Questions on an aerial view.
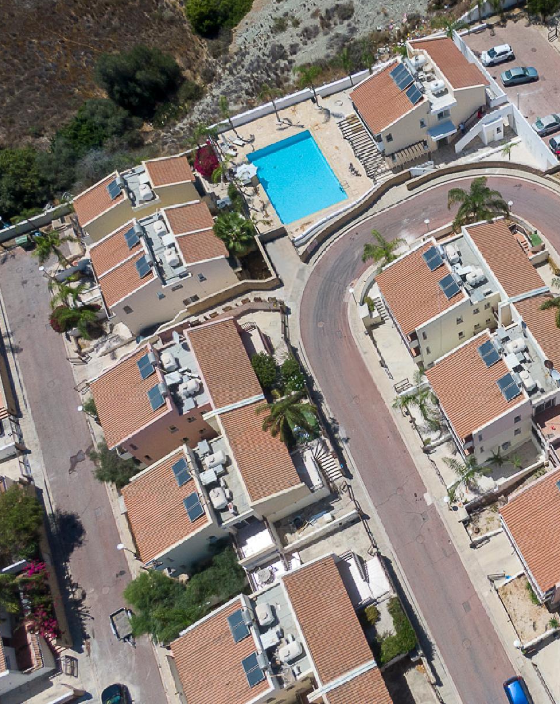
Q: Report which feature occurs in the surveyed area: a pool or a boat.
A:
pool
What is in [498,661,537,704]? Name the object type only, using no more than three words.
car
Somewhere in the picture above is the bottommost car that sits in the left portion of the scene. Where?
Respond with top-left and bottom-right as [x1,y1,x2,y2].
[95,673,126,704]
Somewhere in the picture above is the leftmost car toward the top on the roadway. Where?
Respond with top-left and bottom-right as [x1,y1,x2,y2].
[477,38,513,64]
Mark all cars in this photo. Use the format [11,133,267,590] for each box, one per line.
[498,661,537,704]
[95,673,126,704]
[530,108,560,133]
[499,61,538,82]
[477,38,513,64]
[544,130,560,152]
